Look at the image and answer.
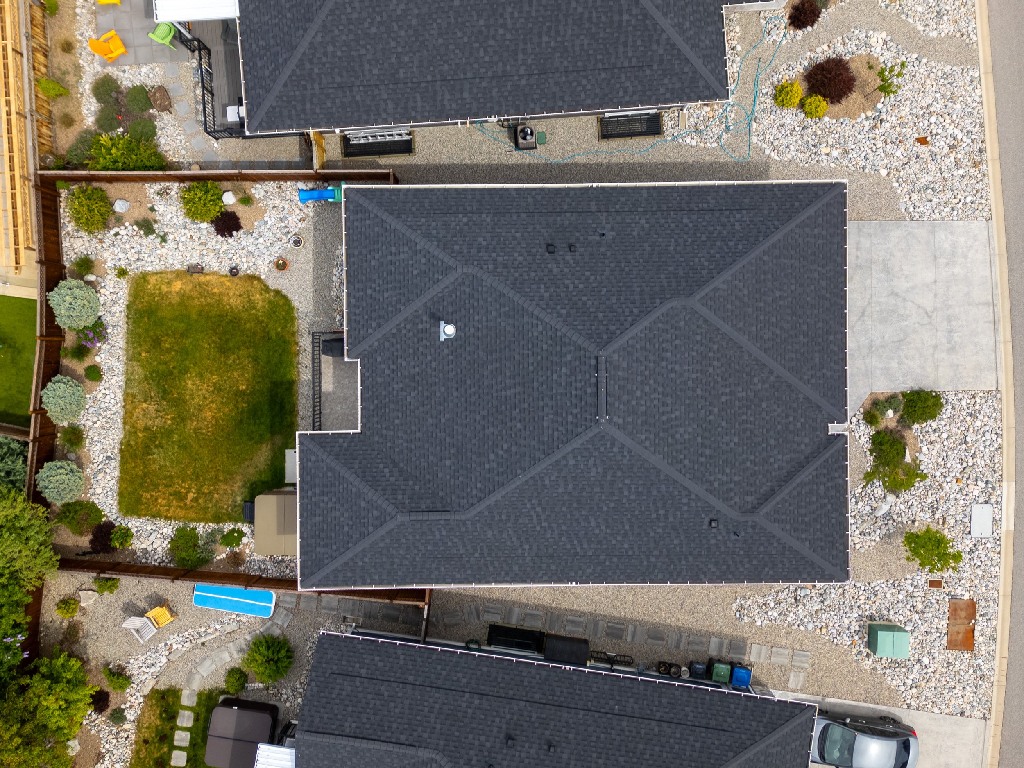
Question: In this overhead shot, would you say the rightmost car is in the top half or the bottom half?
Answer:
bottom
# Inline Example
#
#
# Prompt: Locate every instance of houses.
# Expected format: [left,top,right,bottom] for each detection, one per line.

[235,0,777,145]
[296,179,851,592]
[293,618,822,768]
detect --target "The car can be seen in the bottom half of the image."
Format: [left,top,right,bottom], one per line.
[814,707,922,768]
